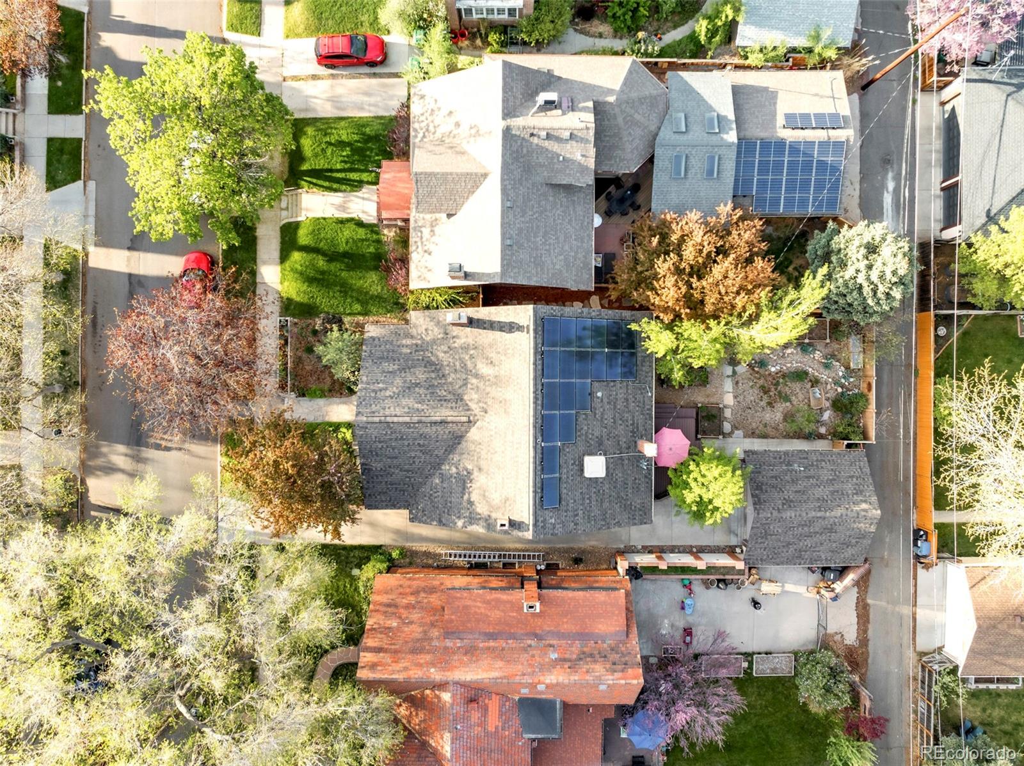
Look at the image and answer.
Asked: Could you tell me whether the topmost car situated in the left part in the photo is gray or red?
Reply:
red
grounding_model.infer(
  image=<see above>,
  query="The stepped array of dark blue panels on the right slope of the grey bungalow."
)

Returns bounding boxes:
[541,316,638,509]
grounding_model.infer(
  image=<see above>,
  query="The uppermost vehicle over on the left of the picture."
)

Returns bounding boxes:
[312,25,385,65]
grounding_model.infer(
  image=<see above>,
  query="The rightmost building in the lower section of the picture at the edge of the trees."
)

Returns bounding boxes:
[946,562,1024,679]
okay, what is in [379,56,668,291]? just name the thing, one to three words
house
